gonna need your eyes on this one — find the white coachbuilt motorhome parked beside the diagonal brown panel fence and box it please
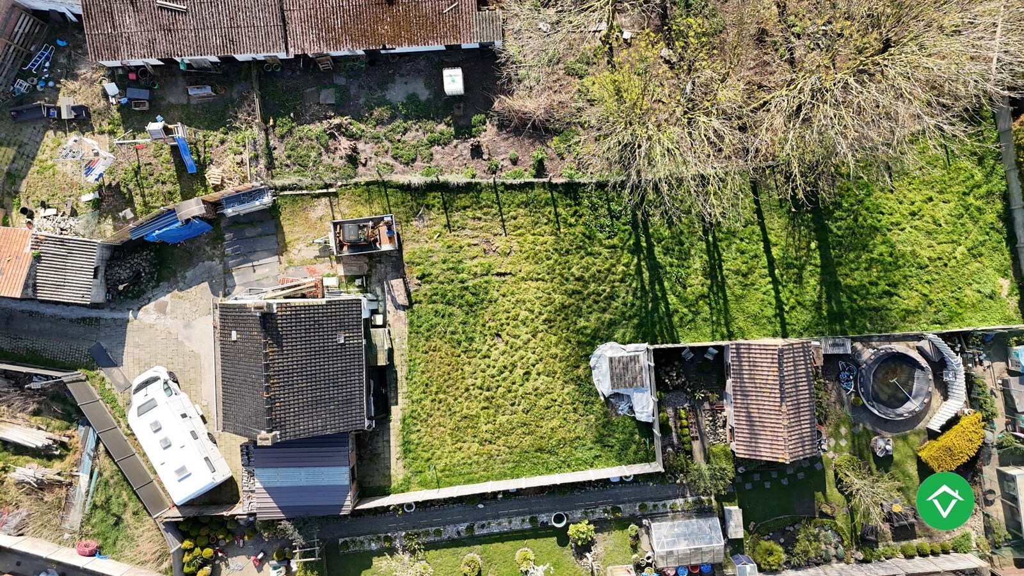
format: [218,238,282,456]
[127,361,230,501]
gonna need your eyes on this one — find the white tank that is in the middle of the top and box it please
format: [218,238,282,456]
[444,70,464,102]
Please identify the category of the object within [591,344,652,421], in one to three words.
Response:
shed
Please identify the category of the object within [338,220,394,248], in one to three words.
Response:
work vehicle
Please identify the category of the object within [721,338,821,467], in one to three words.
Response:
house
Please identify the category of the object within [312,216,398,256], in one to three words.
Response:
trailer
